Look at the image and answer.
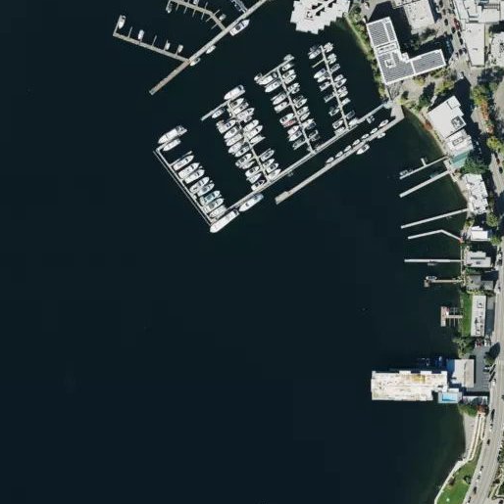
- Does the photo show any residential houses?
Yes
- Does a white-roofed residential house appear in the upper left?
No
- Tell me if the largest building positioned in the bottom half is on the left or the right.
right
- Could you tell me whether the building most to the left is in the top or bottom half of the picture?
top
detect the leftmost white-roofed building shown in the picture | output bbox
[290,0,350,34]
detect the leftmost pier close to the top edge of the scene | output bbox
[114,22,188,61]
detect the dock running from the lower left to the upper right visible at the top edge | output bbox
[150,0,273,95]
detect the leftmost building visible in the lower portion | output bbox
[371,371,447,401]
